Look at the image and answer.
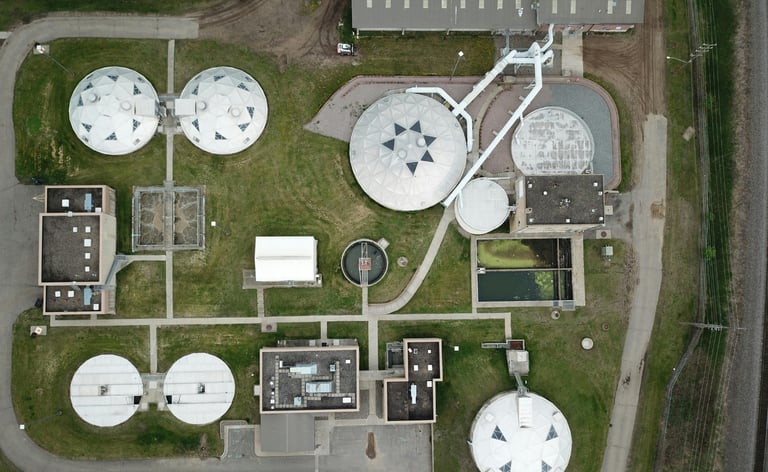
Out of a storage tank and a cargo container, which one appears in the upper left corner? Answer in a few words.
storage tank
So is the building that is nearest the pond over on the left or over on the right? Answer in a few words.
right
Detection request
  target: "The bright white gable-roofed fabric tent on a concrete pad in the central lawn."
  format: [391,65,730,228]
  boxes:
[255,236,316,281]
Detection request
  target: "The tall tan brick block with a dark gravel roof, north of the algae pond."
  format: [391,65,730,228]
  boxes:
[508,176,604,231]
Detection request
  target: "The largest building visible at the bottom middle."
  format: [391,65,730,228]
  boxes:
[254,346,360,414]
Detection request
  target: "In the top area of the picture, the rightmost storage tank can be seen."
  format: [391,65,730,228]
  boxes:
[512,108,592,177]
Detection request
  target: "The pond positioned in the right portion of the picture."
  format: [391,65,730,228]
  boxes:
[470,234,586,310]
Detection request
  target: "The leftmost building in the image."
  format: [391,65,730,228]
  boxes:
[38,185,118,315]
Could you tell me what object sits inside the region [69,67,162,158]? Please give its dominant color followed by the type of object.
white storage tank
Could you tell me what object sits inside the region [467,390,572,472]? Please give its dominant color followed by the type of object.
white storage tank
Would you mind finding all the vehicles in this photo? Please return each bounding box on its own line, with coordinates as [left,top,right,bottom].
[336,44,354,56]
